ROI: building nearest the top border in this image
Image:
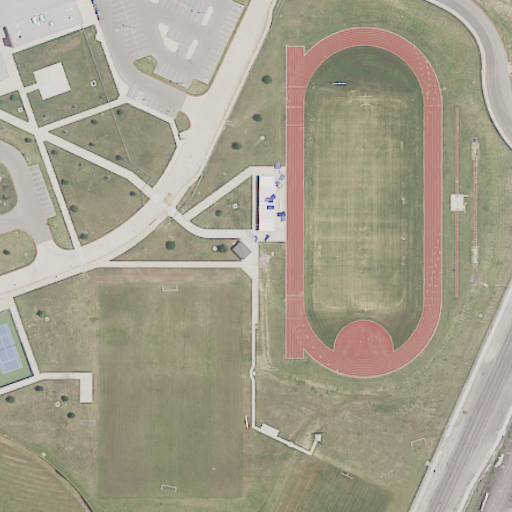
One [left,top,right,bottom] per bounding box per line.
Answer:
[0,0,84,48]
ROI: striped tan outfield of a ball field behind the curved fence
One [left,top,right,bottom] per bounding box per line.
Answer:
[0,436,90,512]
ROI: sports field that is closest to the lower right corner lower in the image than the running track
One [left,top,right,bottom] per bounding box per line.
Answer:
[276,457,392,512]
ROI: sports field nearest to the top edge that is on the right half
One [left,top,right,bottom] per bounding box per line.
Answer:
[304,46,424,353]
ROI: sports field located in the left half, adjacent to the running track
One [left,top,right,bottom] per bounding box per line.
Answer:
[98,280,244,498]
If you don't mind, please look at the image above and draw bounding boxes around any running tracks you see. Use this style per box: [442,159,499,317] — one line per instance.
[286,28,442,378]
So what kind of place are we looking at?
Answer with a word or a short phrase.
sports ground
